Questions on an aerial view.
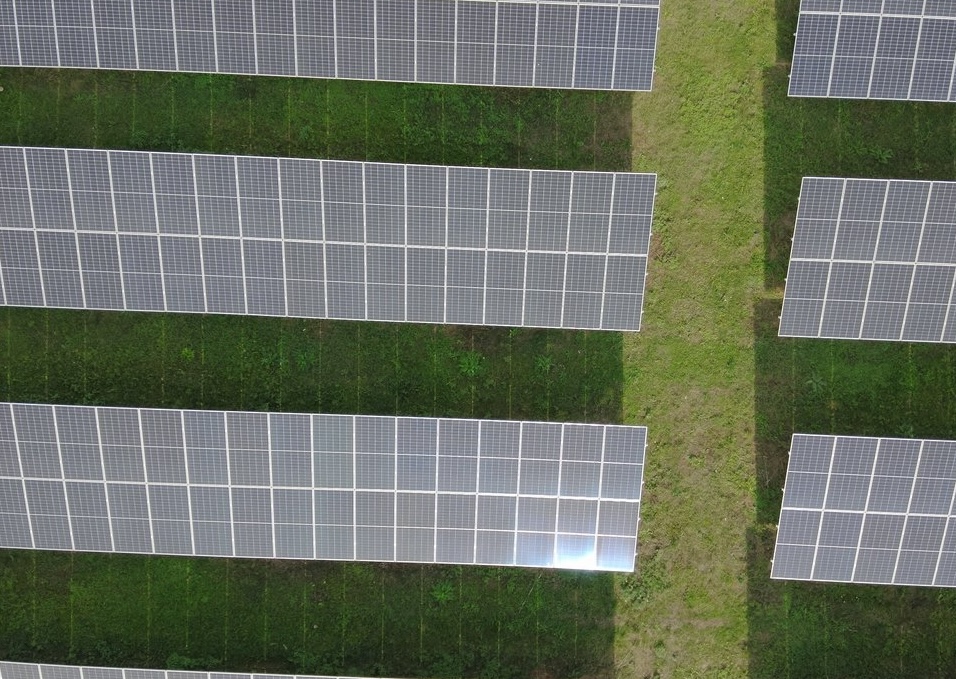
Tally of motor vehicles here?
zero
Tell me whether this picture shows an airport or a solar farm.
solar farm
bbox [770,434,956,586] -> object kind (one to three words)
solar array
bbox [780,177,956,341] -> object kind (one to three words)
solar array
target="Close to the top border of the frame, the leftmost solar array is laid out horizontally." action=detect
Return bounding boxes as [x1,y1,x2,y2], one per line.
[0,0,660,90]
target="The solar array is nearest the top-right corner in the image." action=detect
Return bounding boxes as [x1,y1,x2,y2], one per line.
[788,0,956,101]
